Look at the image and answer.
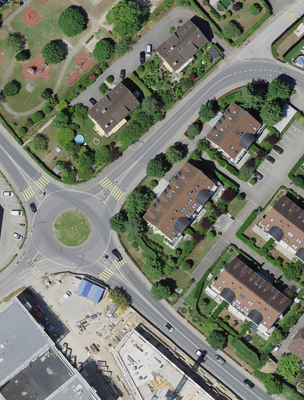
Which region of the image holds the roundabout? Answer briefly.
left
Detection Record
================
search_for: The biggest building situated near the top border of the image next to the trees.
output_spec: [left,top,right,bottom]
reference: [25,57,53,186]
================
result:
[156,20,210,74]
